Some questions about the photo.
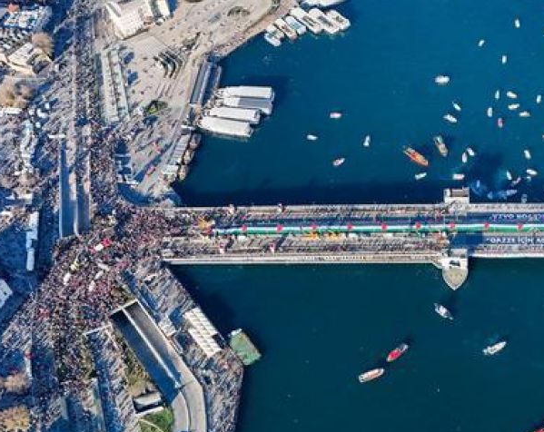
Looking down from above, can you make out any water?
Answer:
Yes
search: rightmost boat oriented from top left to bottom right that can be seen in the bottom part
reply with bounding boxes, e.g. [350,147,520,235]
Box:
[435,302,451,318]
